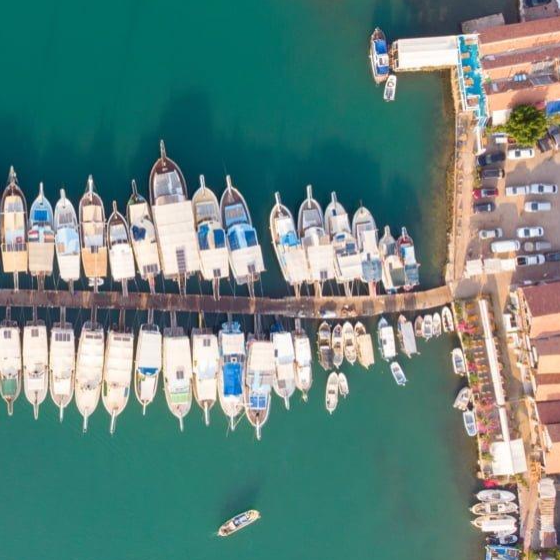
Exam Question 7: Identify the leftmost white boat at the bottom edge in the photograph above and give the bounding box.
[218,512,259,536]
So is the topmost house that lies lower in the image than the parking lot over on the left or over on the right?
right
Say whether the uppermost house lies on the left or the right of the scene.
right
